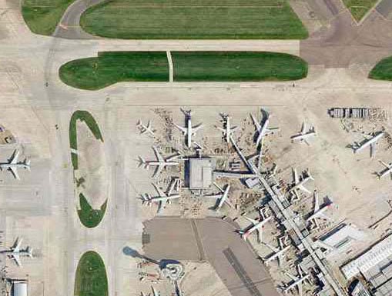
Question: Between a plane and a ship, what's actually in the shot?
plane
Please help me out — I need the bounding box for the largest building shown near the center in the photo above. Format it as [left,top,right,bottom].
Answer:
[189,158,213,190]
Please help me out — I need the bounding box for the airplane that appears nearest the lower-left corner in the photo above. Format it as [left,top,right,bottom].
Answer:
[0,238,33,268]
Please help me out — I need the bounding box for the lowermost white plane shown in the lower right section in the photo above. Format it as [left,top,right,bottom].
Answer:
[279,273,310,296]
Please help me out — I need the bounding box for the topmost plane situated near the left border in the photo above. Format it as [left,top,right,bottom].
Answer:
[0,150,31,181]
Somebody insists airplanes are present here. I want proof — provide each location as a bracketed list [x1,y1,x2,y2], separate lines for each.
[307,196,335,223]
[250,111,281,146]
[0,238,33,268]
[139,183,180,213]
[261,242,291,271]
[351,131,386,156]
[0,150,31,181]
[138,149,179,178]
[209,184,234,213]
[279,273,310,296]
[291,173,315,194]
[216,113,240,142]
[376,162,392,181]
[291,123,316,146]
[240,216,272,241]
[174,110,204,147]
